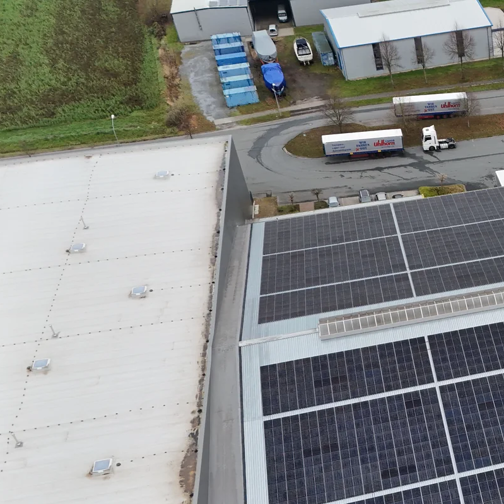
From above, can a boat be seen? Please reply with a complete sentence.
Yes, there's a boat here.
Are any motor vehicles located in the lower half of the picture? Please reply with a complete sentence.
No, no motor vehicle appears in the lower half of the picture.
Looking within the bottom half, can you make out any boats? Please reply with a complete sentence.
No, I see no boat within the bottom half.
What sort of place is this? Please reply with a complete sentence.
This image shows an industrial area.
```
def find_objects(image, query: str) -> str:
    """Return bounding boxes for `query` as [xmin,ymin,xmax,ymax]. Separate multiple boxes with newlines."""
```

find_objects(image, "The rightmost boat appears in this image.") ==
[295,37,315,66]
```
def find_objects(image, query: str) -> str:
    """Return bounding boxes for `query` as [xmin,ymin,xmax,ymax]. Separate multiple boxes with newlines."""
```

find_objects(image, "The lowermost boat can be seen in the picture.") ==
[260,62,287,95]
